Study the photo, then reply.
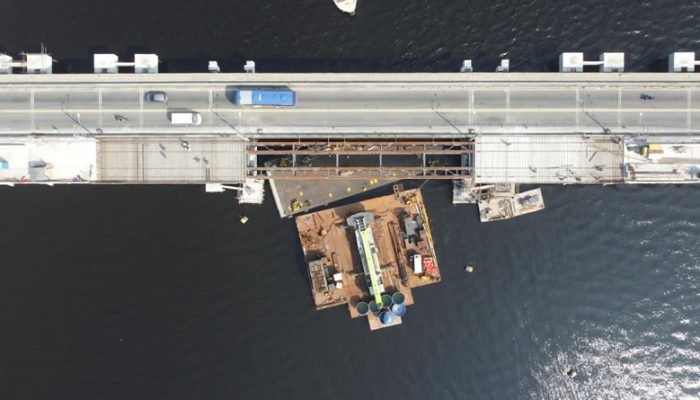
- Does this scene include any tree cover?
No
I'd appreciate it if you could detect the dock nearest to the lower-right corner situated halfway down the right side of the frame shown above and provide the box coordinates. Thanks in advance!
[513,188,545,216]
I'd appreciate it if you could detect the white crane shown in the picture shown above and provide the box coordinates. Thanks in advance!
[348,213,389,312]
